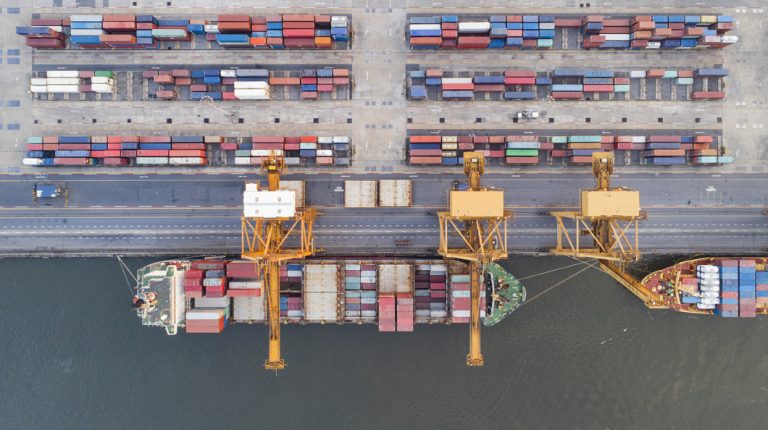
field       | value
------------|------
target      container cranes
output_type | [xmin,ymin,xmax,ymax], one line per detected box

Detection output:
[429,151,511,366]
[537,151,667,308]
[242,147,322,369]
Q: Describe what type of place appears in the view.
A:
port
